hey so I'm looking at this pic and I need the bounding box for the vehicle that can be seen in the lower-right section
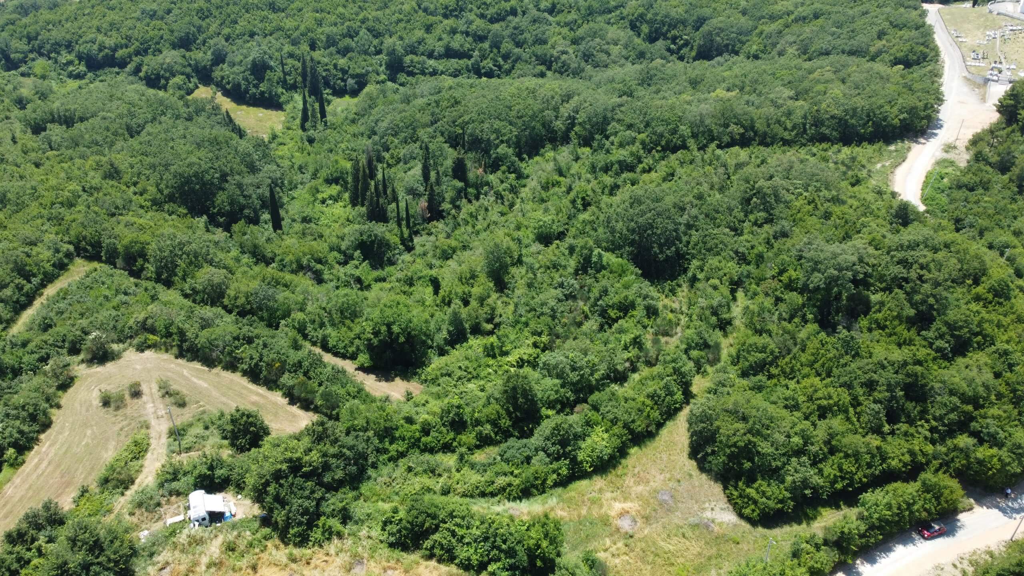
[921,518,951,537]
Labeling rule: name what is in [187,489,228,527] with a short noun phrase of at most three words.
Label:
van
